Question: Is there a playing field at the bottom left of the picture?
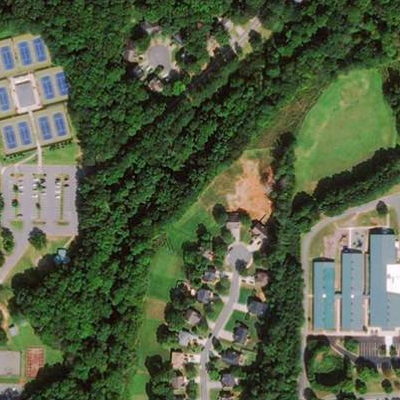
No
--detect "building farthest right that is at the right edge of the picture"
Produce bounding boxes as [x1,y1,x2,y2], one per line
[370,233,400,335]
